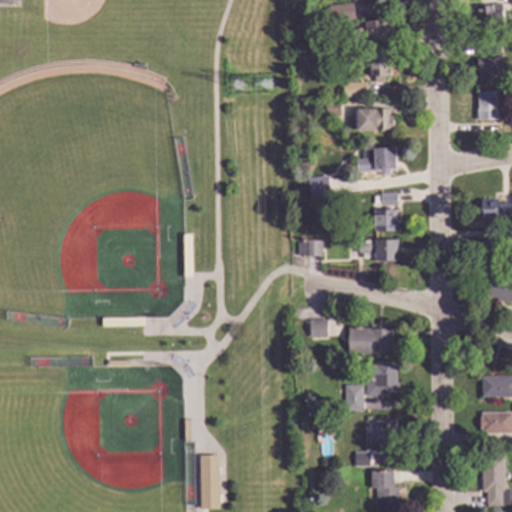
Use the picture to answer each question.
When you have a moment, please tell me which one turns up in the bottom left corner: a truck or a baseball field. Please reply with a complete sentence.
You can see a baseball field in the bottom left corner.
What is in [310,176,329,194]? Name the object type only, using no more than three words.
building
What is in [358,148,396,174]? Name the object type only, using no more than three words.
house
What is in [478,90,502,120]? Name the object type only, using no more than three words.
building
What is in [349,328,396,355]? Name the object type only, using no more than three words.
house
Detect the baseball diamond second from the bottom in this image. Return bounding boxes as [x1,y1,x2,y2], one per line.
[0,59,184,318]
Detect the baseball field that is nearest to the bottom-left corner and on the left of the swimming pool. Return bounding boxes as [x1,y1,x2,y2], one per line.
[0,367,185,512]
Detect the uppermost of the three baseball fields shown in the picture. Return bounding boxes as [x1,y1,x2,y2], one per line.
[44,0,106,60]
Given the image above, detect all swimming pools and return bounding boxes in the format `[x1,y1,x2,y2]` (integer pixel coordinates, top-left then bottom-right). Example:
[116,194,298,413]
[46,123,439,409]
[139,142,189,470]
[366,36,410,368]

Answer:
[316,432,334,458]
